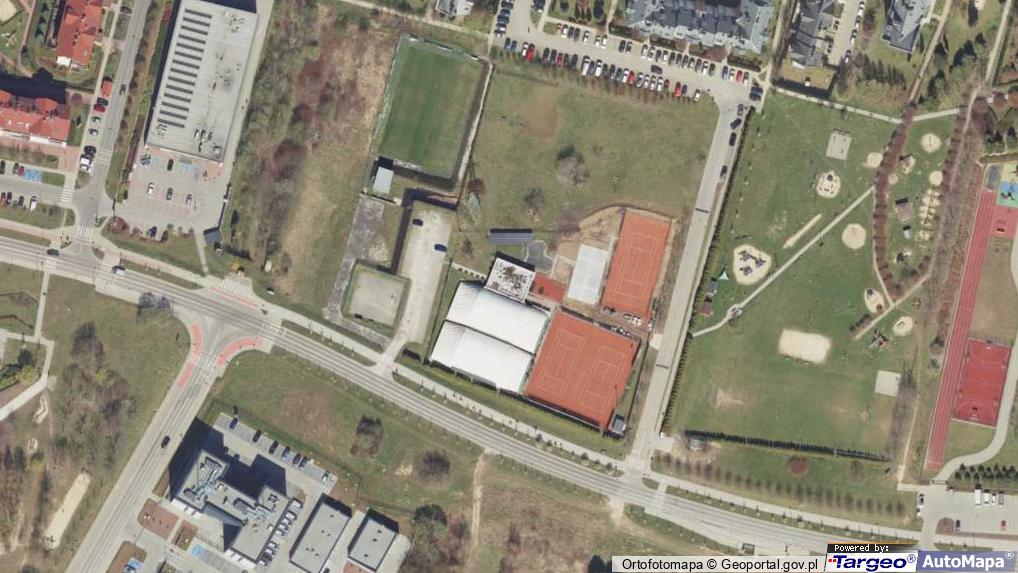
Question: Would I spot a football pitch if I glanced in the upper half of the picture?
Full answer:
Yes, there is a football pitch in the upper half of the picture.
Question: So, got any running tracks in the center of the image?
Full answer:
No, no running track is visible in the center of the image.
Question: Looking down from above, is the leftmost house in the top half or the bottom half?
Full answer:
Seen from above, the leftmost house lies in the top half of the view.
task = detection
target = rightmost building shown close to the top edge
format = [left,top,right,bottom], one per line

[879,0,933,52]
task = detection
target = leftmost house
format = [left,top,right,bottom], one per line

[0,93,70,147]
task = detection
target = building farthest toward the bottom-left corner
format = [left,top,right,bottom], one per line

[172,450,290,568]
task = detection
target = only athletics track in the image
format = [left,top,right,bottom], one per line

[924,187,998,470]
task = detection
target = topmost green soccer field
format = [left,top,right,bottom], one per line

[374,35,488,191]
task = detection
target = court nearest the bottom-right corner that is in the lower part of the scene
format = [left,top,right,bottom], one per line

[952,337,1013,428]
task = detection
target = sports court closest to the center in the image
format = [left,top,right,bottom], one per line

[528,272,566,303]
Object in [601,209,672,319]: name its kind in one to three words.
tennis court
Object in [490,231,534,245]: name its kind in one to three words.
solar array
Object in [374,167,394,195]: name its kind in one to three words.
shed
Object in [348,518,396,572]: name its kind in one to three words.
building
